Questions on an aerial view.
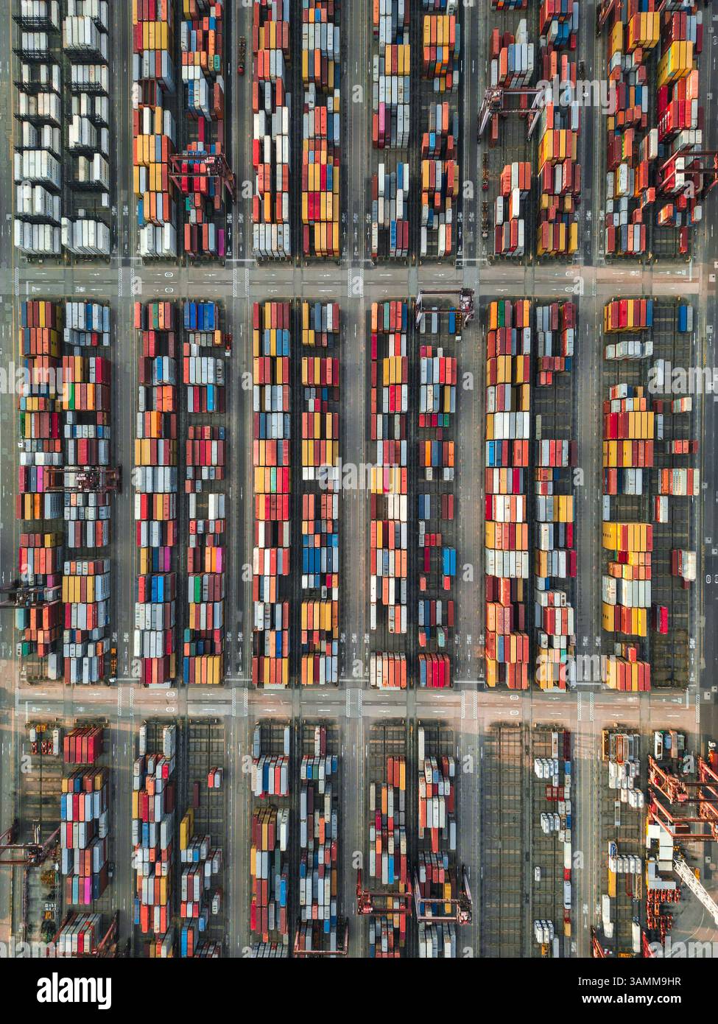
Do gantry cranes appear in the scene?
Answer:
Yes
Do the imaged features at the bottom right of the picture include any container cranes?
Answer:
Yes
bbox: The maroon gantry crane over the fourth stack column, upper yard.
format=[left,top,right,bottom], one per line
[167,152,237,198]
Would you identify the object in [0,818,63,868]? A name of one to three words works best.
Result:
container crane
